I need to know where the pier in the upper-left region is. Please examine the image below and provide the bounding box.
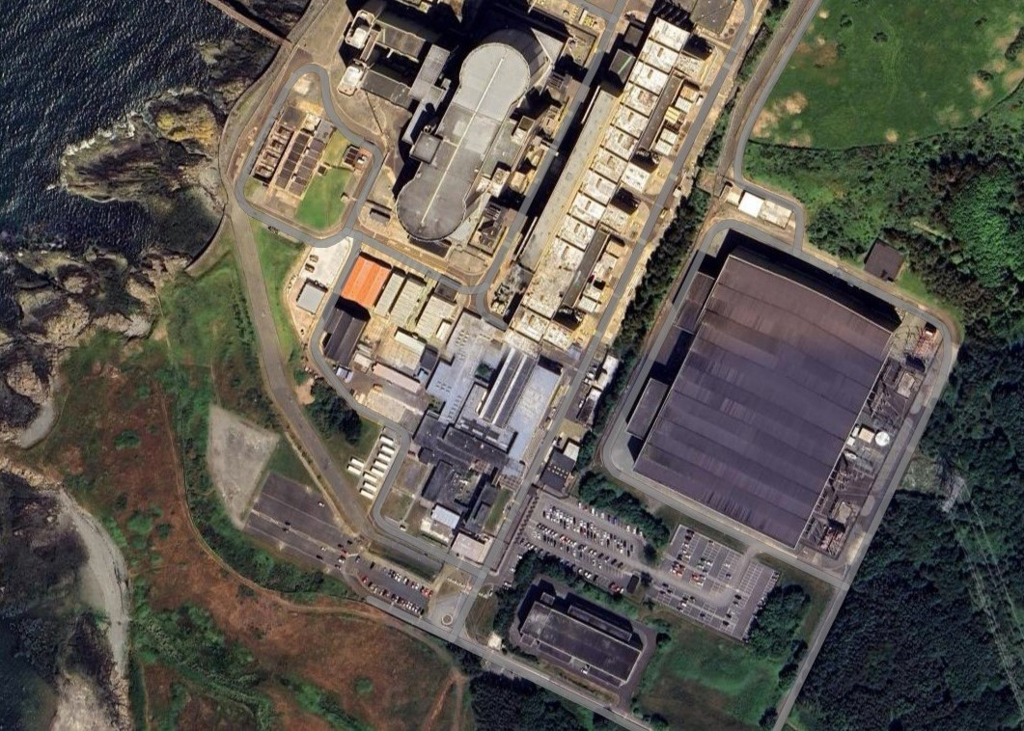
[195,0,294,47]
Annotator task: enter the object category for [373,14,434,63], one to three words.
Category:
building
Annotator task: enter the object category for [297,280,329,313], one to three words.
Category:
shed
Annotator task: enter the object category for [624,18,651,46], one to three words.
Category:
house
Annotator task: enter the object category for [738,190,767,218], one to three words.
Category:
house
